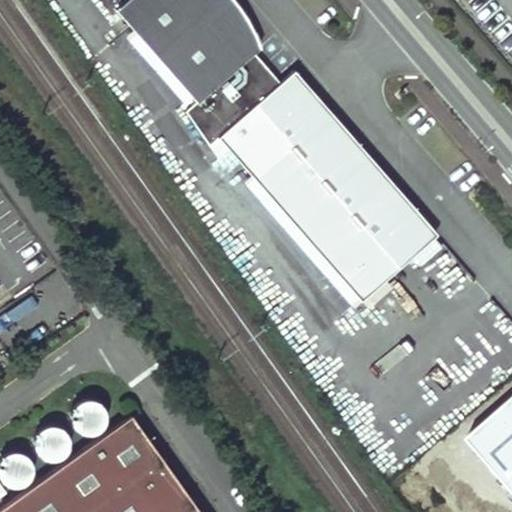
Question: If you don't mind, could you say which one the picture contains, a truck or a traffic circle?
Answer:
truck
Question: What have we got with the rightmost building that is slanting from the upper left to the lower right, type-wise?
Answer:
warehouse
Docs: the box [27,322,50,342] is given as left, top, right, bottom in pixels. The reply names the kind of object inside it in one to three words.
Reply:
vehicle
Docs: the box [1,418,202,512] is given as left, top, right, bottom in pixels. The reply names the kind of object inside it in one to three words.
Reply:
building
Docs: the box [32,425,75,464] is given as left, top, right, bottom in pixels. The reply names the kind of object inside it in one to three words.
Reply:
storage tank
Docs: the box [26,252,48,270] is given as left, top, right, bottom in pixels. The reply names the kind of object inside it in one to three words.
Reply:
car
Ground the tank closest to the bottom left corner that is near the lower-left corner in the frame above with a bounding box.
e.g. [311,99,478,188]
[0,451,38,490]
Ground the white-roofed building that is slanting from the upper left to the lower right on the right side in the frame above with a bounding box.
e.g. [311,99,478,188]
[212,72,444,310]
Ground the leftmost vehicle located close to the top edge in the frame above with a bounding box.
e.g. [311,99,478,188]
[316,7,337,26]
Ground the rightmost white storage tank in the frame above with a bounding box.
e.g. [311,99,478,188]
[70,399,112,438]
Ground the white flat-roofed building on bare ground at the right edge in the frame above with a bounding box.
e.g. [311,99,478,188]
[464,397,512,496]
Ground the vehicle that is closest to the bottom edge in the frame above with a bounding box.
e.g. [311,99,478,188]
[230,486,244,506]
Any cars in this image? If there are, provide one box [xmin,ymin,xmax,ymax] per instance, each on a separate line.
[316,7,337,26]
[410,108,430,126]
[230,486,244,506]
[500,35,512,52]
[470,0,486,10]
[26,252,48,270]
[493,20,512,42]
[460,173,480,192]
[477,0,500,22]
[416,116,436,136]
[485,11,508,32]
[450,162,472,182]
[20,242,42,260]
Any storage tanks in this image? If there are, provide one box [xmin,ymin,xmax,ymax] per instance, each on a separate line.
[0,451,38,490]
[70,399,112,438]
[32,425,75,464]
